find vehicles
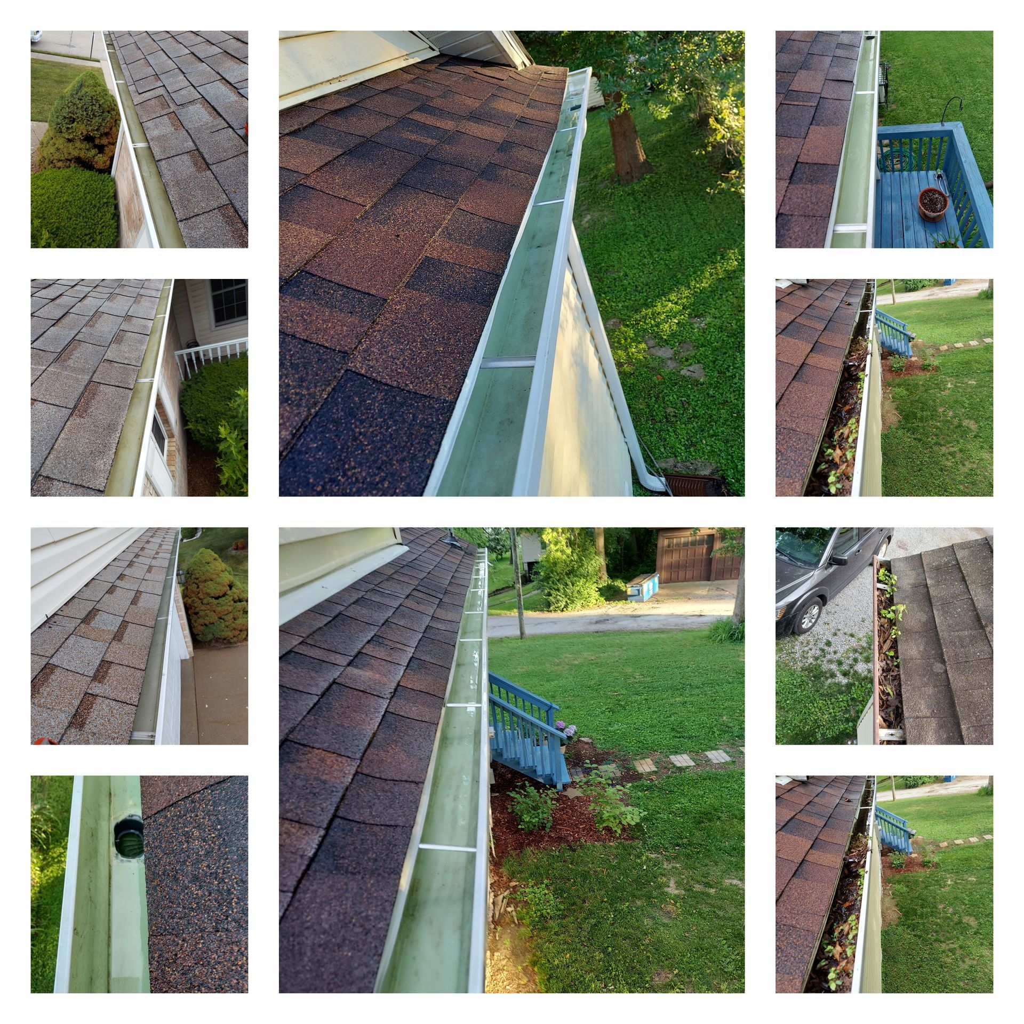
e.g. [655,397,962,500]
[775,527,905,643]
[30,30,46,40]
